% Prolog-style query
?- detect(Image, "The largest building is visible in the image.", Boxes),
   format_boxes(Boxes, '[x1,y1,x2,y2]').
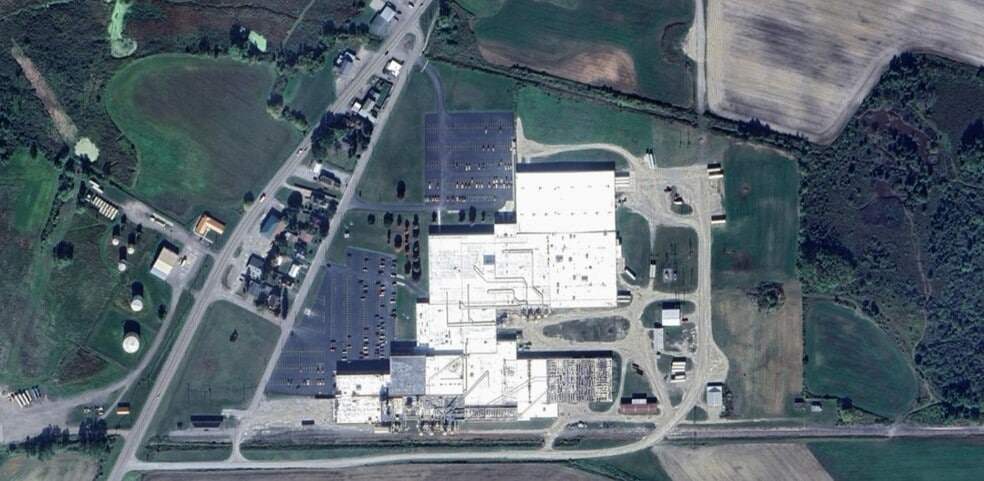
[336,169,621,422]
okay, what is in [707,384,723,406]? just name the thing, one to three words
barn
